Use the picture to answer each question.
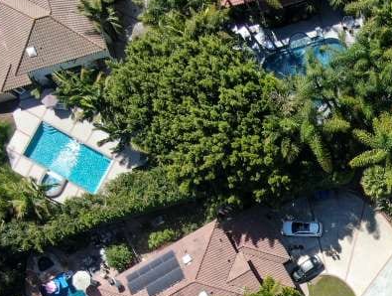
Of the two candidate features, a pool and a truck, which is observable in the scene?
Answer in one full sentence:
There is a pool in the scene.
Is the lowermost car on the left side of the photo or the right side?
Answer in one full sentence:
The lowermost car sits on the right side.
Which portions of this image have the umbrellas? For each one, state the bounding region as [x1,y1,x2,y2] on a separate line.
[43,94,60,110]
[73,272,92,290]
